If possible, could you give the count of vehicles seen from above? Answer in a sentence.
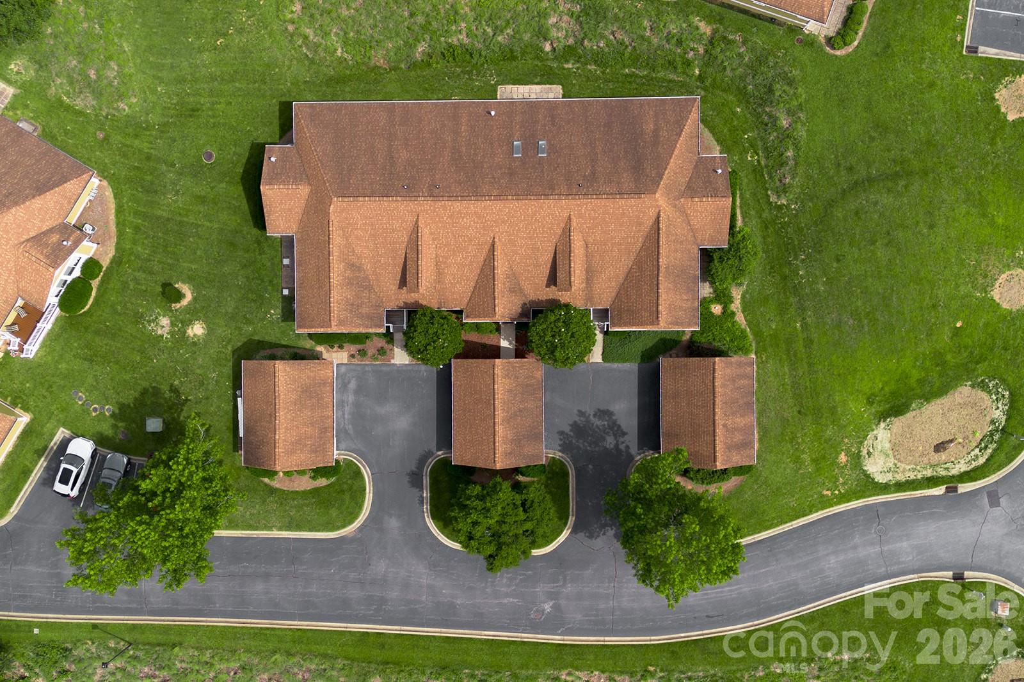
The picture shows 2 vehicles.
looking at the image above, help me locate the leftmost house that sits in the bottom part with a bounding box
[0,400,28,461]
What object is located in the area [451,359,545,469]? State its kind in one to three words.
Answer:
building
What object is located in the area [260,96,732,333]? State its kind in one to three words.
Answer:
house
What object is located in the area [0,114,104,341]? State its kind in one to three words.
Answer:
house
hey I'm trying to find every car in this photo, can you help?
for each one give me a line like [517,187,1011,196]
[89,447,134,509]
[54,435,98,501]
